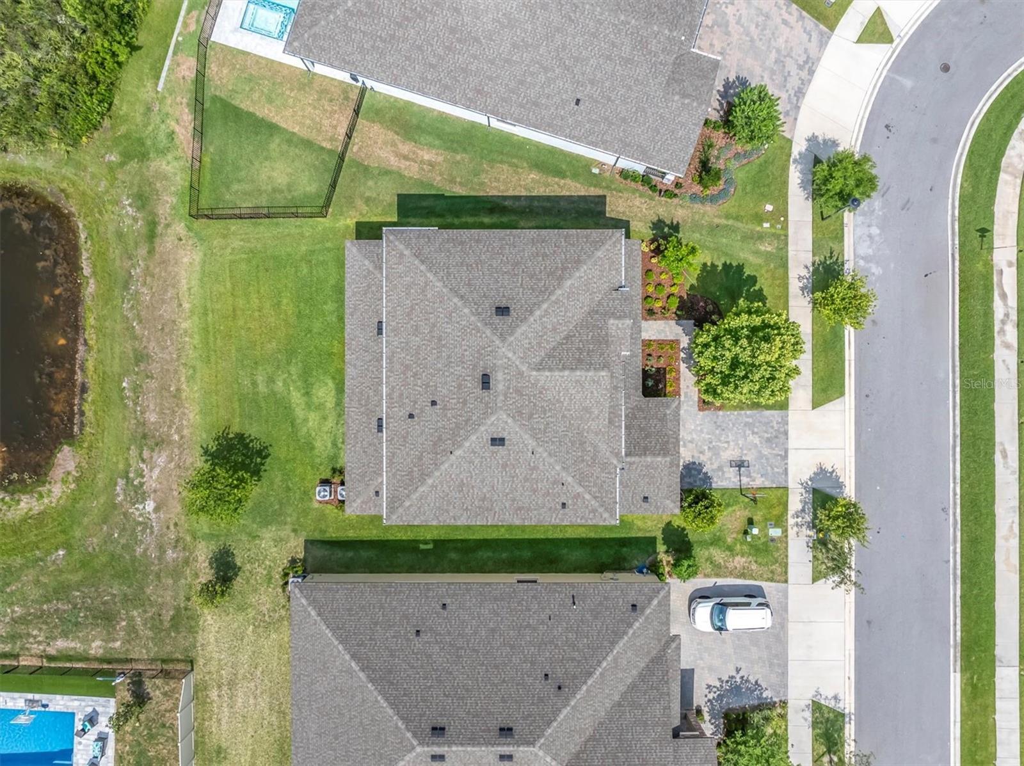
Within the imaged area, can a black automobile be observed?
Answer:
No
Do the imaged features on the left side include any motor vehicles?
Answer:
No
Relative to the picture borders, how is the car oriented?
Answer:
from side to side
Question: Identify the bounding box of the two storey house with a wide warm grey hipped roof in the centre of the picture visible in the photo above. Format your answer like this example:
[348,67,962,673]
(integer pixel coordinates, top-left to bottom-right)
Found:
[344,226,681,526]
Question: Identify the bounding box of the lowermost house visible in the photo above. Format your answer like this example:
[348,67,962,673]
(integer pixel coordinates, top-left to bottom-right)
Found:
[288,573,717,766]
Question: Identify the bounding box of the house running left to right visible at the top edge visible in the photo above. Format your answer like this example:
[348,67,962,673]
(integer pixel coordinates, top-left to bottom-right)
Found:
[283,0,719,181]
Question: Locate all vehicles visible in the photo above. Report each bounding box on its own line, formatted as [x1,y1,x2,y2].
[690,596,770,635]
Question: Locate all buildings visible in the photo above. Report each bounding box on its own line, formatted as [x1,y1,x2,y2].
[288,573,717,766]
[283,0,719,181]
[344,226,681,526]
